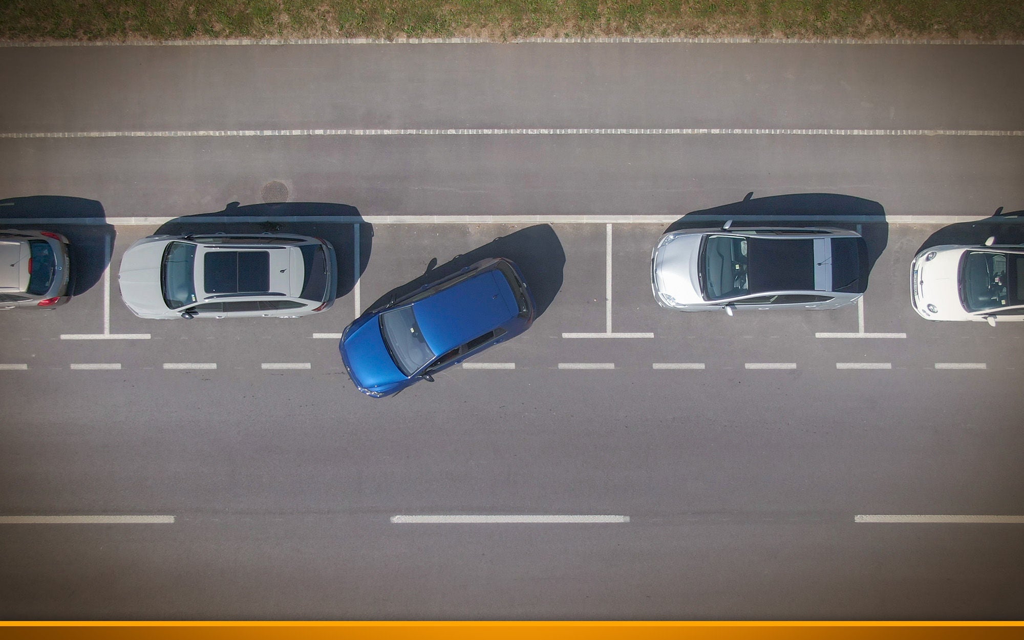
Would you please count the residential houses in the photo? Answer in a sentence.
The count of residential houses is 0.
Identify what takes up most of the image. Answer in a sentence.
The bulk of the photo consists of paved ground.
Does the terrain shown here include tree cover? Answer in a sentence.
No, the picture contains no tree cover.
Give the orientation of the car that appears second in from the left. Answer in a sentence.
From this overhead view, the car that appears second in from the left appears to run from left to right.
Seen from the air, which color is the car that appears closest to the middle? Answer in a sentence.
The color of the car that appears closest to the middle is blue.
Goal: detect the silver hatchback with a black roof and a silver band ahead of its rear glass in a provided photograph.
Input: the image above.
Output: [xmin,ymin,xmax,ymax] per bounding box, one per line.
[651,217,867,316]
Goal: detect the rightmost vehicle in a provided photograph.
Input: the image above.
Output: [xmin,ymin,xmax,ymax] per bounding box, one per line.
[909,235,1024,326]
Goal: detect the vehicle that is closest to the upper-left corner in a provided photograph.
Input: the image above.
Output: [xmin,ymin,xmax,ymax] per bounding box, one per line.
[0,226,77,311]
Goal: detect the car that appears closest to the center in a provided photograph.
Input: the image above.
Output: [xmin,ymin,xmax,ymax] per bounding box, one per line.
[339,257,537,397]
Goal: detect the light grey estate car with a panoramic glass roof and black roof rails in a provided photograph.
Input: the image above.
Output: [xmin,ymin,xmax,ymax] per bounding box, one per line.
[118,229,338,321]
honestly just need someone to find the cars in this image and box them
[118,229,338,321]
[339,257,537,397]
[909,235,1024,326]
[651,217,867,316]
[0,226,77,311]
